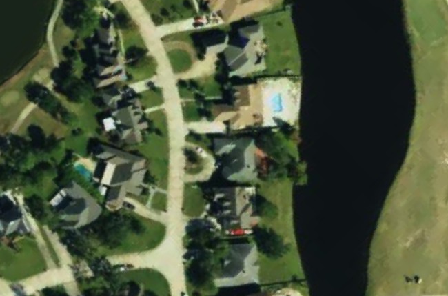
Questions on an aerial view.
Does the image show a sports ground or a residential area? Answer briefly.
residential area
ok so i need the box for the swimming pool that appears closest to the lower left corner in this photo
[73,164,93,181]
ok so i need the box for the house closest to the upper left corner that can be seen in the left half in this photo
[94,31,127,93]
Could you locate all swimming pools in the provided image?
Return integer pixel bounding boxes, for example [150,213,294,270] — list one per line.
[73,164,93,181]
[271,93,283,113]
